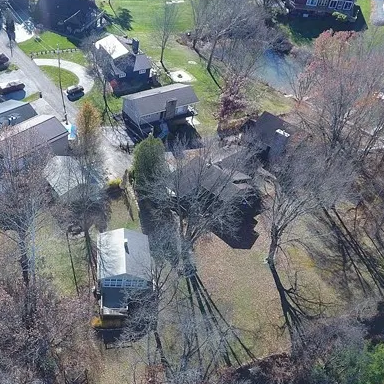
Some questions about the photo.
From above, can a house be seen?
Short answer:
Yes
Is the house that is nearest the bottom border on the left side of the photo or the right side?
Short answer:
left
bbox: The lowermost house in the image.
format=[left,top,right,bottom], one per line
[98,229,153,320]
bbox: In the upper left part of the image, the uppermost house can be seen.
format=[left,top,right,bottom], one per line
[30,0,92,34]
